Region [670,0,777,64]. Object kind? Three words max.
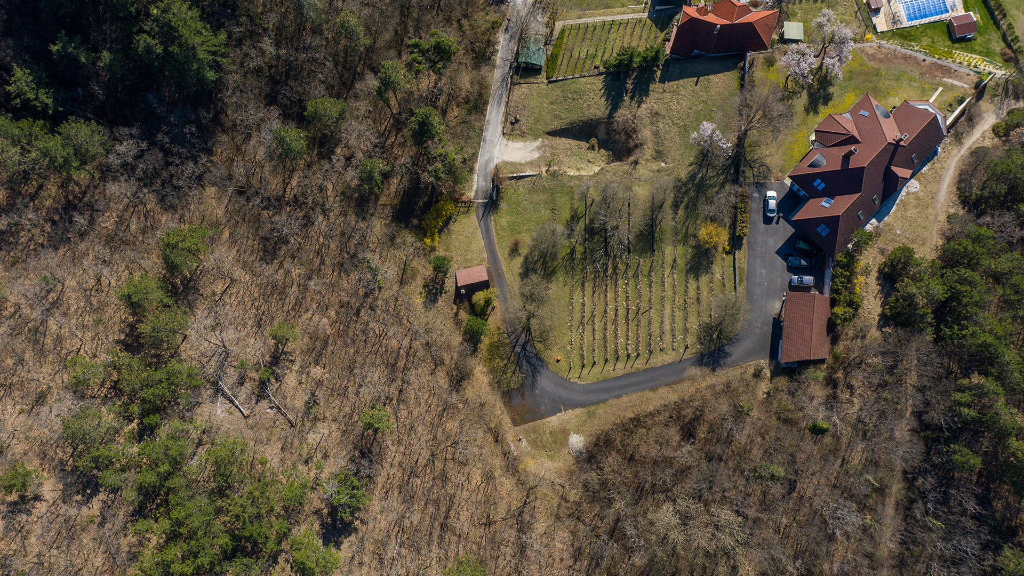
house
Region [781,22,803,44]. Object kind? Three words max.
shed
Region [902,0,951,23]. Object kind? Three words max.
swimming pool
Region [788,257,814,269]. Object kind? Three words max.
vehicle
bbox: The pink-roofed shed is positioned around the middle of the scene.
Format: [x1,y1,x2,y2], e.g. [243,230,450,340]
[456,265,490,295]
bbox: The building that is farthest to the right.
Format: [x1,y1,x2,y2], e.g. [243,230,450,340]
[946,12,977,40]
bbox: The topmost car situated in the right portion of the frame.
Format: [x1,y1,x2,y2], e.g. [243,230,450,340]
[765,193,778,217]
